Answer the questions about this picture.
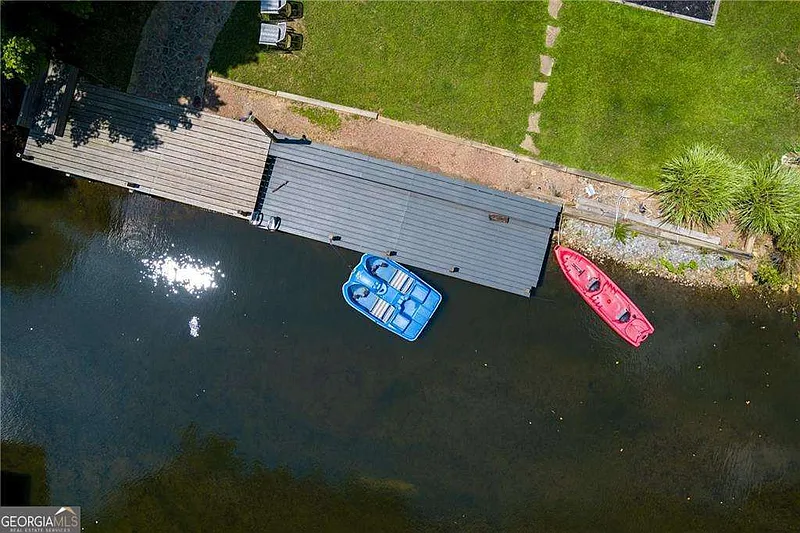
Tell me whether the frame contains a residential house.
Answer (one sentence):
No, there appears to be no residential house in this shot.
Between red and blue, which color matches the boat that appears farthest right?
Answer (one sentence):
The boat that appears farthest right looks red in the image.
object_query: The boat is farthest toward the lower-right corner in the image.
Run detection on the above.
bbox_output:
[555,246,653,345]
